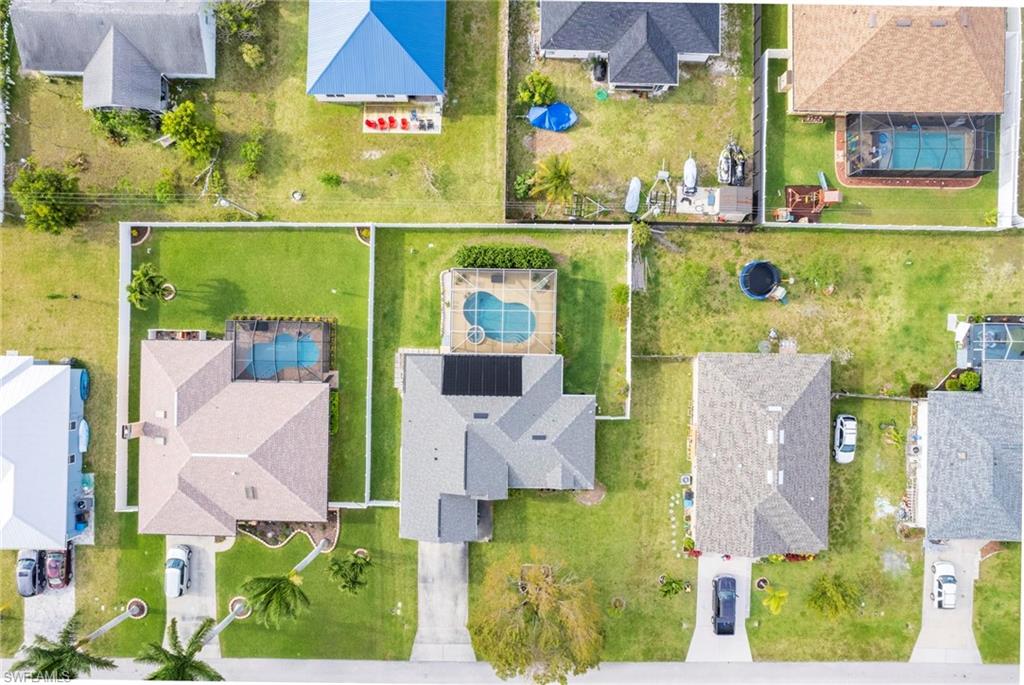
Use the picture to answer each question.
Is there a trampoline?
Yes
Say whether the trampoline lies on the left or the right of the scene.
right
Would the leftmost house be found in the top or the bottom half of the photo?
bottom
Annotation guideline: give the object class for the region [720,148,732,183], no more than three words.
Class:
boat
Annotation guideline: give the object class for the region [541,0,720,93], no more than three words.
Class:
house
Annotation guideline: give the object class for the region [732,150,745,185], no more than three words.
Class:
boat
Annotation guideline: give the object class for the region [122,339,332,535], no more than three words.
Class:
house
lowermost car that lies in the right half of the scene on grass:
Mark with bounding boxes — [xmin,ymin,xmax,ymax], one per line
[831,413,858,462]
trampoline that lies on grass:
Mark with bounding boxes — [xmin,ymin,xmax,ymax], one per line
[742,260,783,300]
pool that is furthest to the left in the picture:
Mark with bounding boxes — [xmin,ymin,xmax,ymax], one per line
[246,331,321,381]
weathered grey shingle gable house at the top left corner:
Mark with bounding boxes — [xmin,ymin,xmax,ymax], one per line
[9,0,215,113]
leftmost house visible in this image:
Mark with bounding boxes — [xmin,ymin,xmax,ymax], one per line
[0,348,86,550]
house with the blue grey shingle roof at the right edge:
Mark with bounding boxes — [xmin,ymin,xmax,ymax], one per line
[913,361,1024,541]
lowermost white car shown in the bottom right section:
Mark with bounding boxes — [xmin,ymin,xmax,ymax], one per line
[929,560,959,609]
